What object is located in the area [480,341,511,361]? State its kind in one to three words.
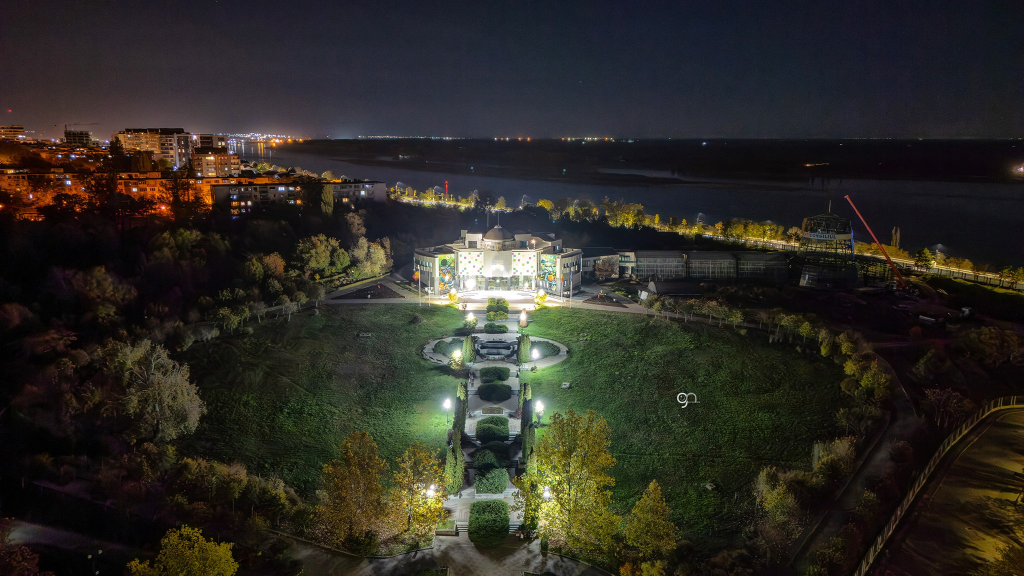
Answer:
fountain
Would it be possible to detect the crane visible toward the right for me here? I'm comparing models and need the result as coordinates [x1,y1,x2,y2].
[838,194,925,292]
